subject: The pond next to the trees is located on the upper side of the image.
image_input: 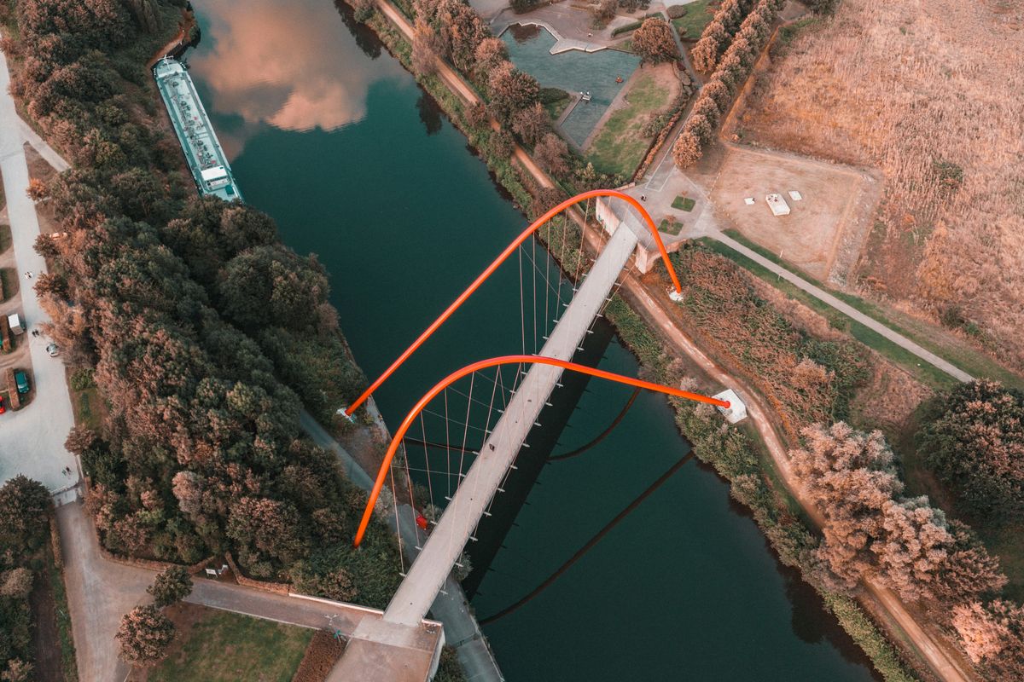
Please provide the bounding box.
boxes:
[500,22,642,146]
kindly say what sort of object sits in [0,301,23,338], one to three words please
truck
